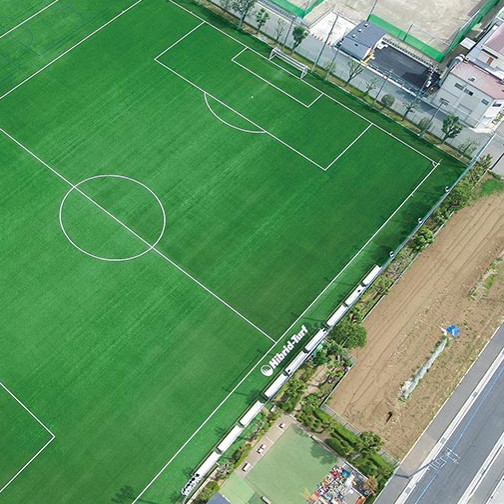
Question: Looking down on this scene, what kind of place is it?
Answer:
sports ground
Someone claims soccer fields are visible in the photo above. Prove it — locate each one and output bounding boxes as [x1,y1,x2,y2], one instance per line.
[0,0,141,97]
[0,0,467,504]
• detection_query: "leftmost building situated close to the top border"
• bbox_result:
[335,22,386,74]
